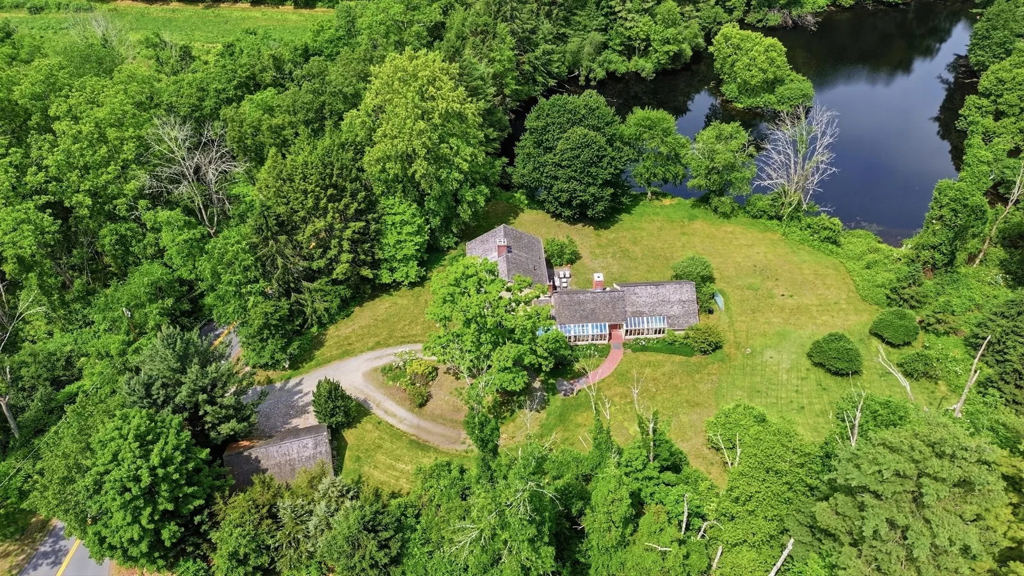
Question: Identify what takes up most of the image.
trees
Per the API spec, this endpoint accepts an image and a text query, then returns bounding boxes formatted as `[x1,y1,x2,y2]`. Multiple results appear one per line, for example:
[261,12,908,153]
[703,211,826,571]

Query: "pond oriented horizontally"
[488,3,982,248]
